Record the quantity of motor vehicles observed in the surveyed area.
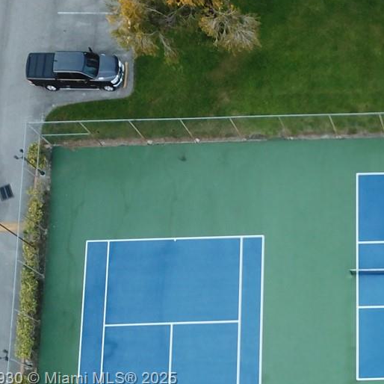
1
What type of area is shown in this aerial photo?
sports ground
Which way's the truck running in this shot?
from left to right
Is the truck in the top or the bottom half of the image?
top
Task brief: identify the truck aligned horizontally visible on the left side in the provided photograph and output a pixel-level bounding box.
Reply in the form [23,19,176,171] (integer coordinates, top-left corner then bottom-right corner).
[22,44,125,88]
